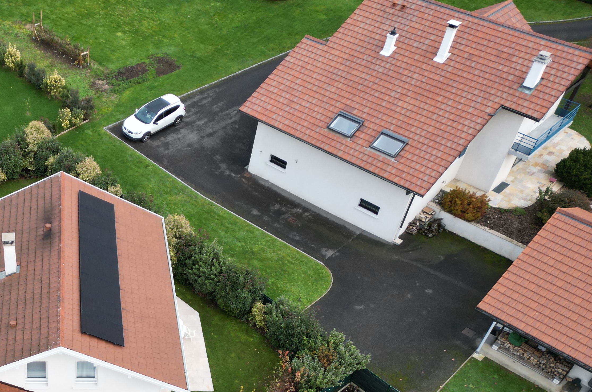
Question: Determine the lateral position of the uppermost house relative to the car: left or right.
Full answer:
You can see the uppermost house positioned to the right of the car.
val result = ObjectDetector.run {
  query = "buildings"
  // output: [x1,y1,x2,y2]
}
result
[0,171,194,392]
[473,208,592,392]
[237,0,592,248]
